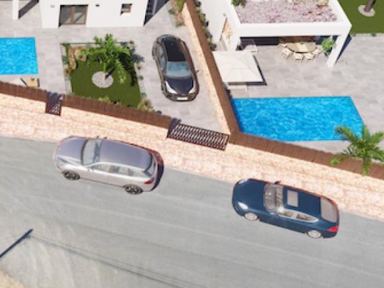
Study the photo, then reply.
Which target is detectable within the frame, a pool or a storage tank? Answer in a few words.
pool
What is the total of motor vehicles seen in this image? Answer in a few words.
3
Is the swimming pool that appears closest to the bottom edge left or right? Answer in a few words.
right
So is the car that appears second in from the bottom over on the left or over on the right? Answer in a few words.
left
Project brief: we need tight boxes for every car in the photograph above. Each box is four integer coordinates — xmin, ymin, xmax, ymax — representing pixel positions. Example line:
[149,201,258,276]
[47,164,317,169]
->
[151,32,202,107]
[229,170,344,239]
[55,134,158,197]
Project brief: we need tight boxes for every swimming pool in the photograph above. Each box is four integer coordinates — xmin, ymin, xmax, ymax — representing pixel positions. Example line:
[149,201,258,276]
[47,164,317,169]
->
[0,34,45,79]
[226,92,371,146]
